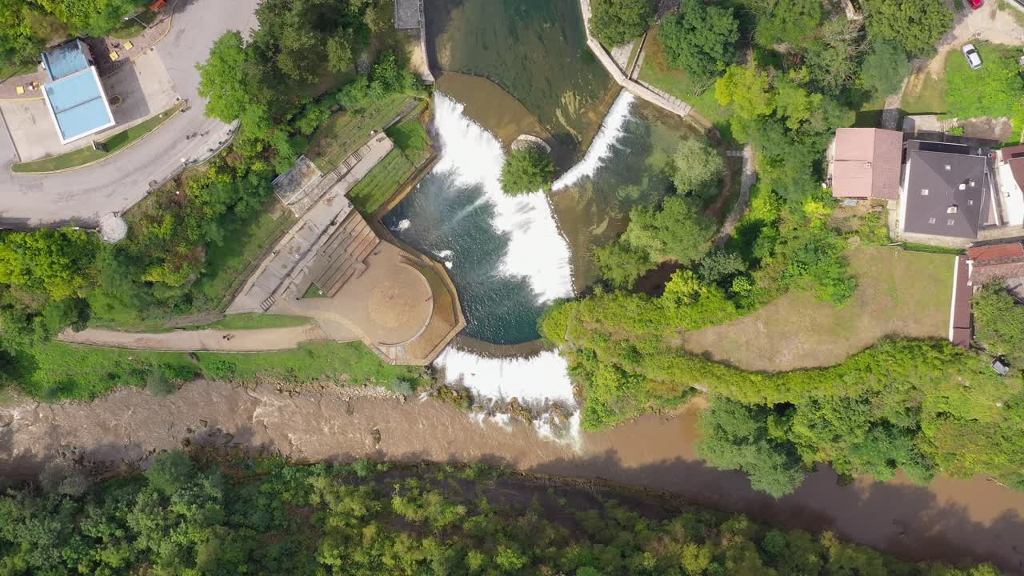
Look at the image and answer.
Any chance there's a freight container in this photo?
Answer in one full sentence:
No, no freight container is visible in the view.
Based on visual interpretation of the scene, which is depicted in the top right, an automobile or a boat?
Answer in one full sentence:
The feature located in the top right is an automobile.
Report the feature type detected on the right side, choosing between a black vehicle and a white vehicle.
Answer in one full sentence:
Looking on the right side, you will find a white vehicle.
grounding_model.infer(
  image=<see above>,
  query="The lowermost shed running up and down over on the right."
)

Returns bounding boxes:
[946,255,972,347]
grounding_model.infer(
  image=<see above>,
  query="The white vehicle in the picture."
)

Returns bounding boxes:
[957,44,984,70]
